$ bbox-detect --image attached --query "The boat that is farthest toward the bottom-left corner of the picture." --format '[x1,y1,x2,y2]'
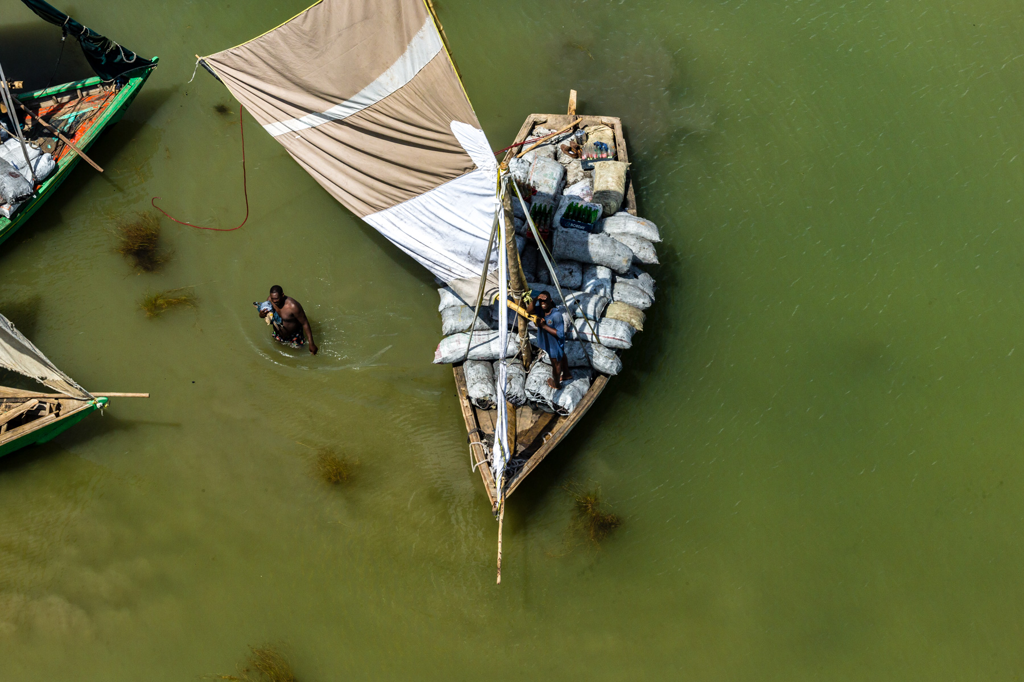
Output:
[0,313,149,474]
